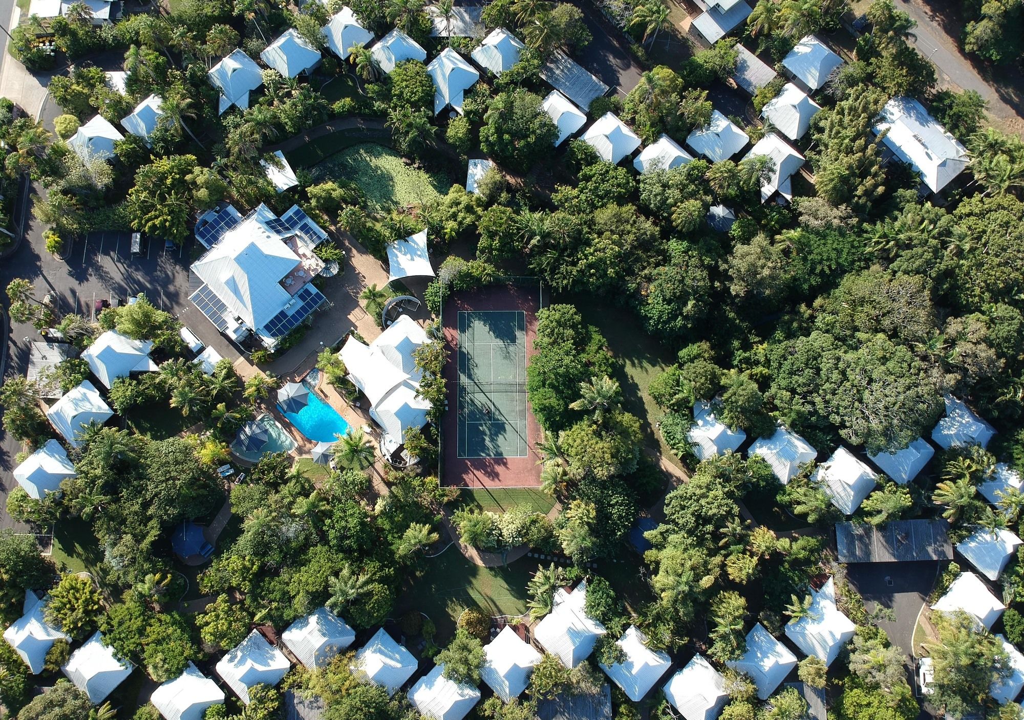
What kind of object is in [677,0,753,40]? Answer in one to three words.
house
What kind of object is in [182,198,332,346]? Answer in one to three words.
building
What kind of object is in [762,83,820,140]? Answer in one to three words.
building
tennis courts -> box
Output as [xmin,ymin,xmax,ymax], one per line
[440,279,541,487]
